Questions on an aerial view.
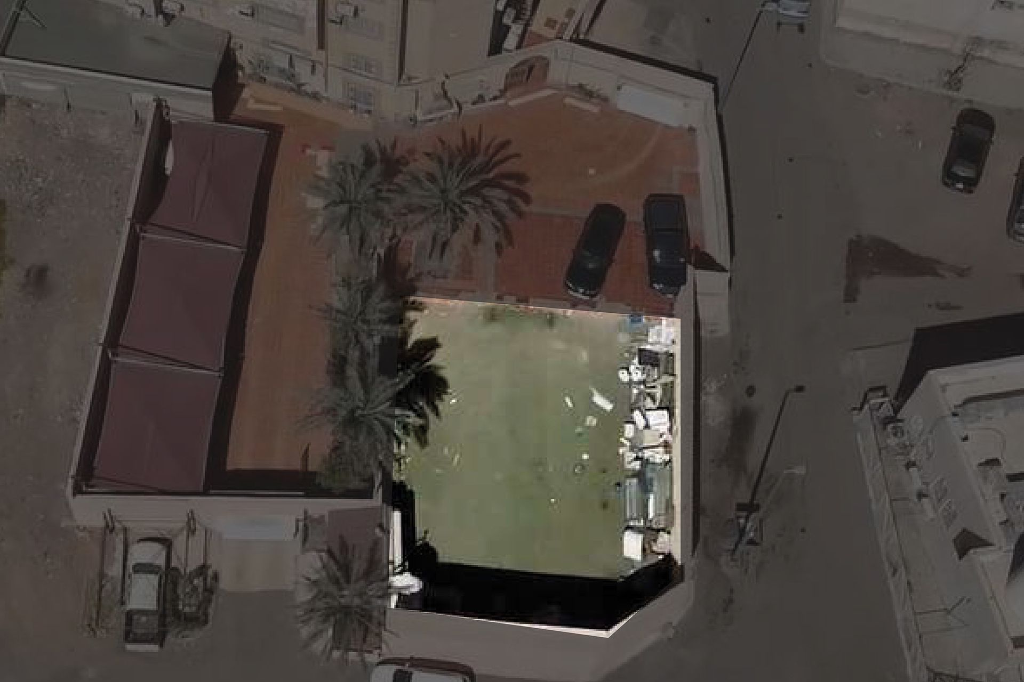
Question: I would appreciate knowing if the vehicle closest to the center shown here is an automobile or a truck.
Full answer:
Looking closely, the vehicle closest to the center is an automobile.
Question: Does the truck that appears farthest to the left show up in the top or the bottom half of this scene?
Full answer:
The truck that appears farthest to the left is in the bottom half of the image.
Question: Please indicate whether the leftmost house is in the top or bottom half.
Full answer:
Seen from above, the leftmost house lies in the top half of the view.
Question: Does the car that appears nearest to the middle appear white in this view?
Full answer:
No, the car that appears nearest to the middle is actually black.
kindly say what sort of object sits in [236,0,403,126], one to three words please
house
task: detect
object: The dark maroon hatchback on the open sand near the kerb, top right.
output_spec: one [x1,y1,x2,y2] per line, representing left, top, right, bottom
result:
[942,108,992,190]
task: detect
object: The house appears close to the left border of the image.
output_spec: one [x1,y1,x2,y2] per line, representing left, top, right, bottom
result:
[0,0,232,124]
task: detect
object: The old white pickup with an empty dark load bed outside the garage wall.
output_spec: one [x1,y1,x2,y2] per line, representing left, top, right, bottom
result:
[123,539,168,656]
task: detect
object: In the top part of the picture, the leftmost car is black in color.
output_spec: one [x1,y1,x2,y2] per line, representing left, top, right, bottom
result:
[567,205,627,298]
